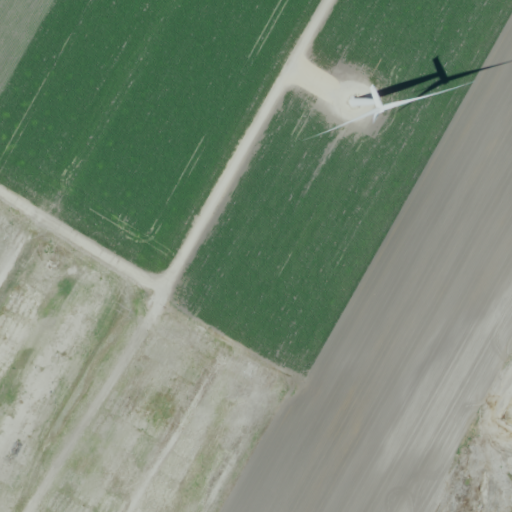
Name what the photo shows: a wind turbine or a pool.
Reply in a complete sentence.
The image shows a wind turbine.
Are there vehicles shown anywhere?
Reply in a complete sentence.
No, I can see no vehicle in this picture.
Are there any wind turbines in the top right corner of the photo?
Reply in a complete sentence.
Yes, I can see a wind turbine in the top right corner of the photo.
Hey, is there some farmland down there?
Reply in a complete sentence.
Yes, there's farmland in this view.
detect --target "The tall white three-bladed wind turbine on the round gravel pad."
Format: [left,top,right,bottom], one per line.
[304,83,474,142]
